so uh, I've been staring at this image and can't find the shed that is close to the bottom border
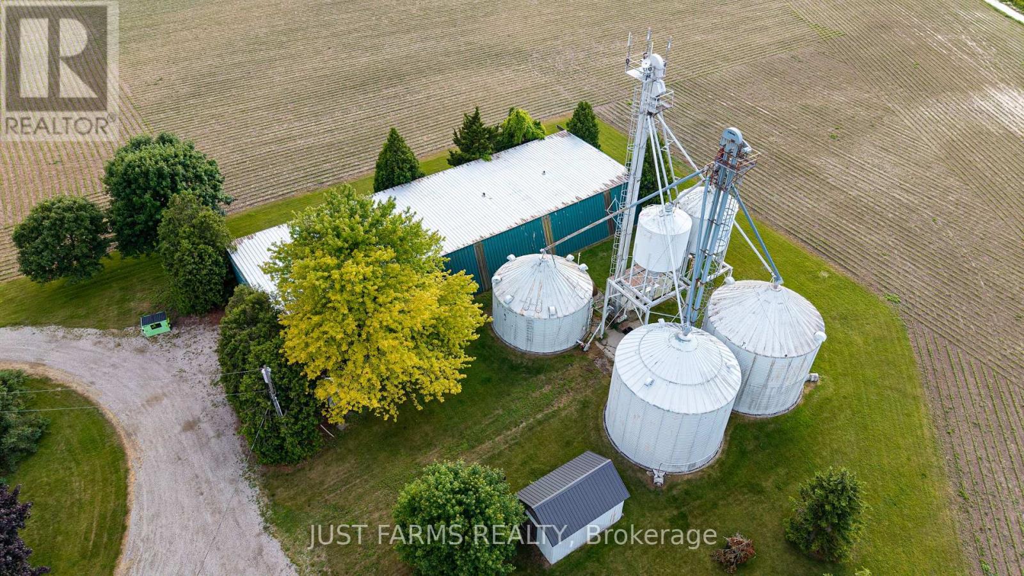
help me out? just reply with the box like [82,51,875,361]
[511,453,631,565]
